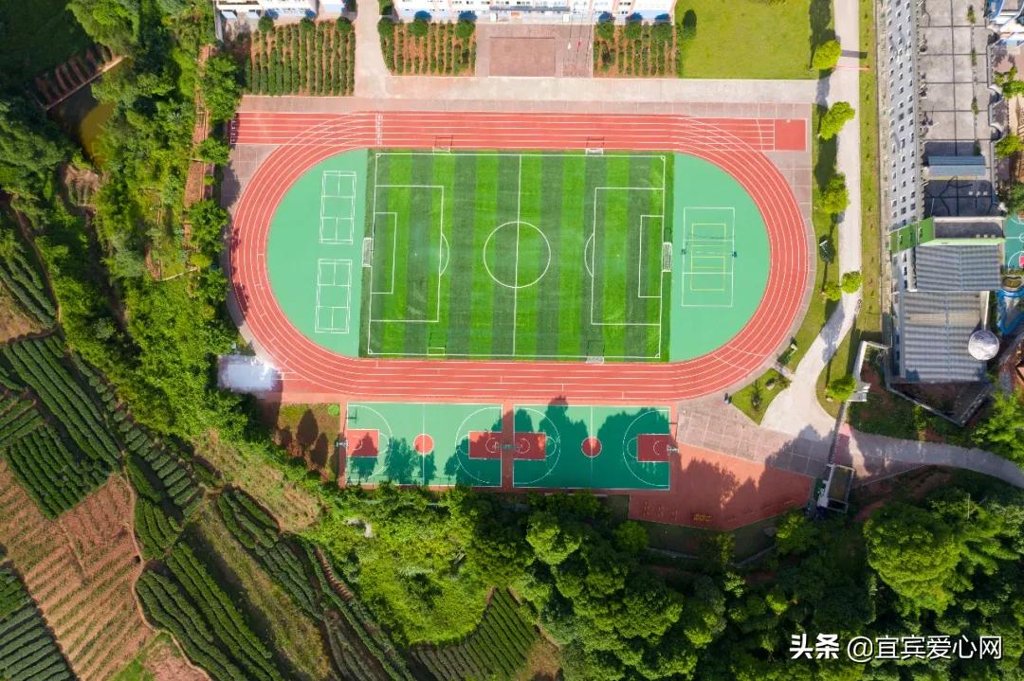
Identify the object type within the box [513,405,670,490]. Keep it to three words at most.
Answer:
basketball court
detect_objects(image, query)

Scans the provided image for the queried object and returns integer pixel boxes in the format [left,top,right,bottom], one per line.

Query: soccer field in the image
[360,149,675,362]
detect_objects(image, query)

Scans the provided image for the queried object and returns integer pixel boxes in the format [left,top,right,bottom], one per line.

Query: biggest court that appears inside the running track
[682,207,734,307]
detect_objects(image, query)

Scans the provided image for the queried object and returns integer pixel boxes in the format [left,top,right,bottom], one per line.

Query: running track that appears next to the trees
[229,109,810,401]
